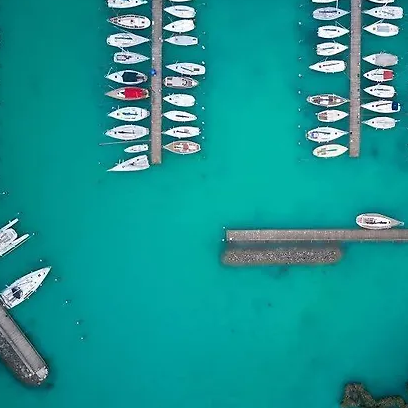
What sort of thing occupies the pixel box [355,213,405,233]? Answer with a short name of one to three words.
boat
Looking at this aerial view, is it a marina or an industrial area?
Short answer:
marina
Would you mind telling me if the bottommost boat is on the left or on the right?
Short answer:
left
